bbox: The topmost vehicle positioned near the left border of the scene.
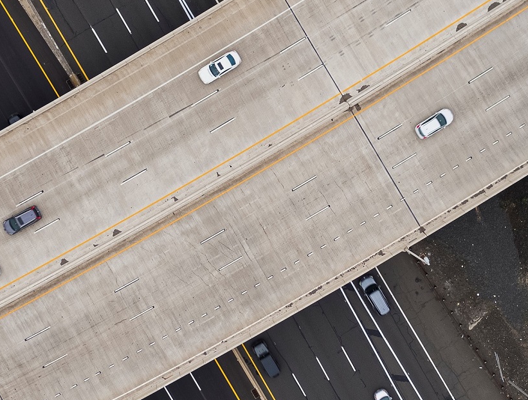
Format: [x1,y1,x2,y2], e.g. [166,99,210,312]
[5,108,24,125]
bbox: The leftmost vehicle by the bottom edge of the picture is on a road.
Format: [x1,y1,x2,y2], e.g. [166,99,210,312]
[252,336,283,381]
